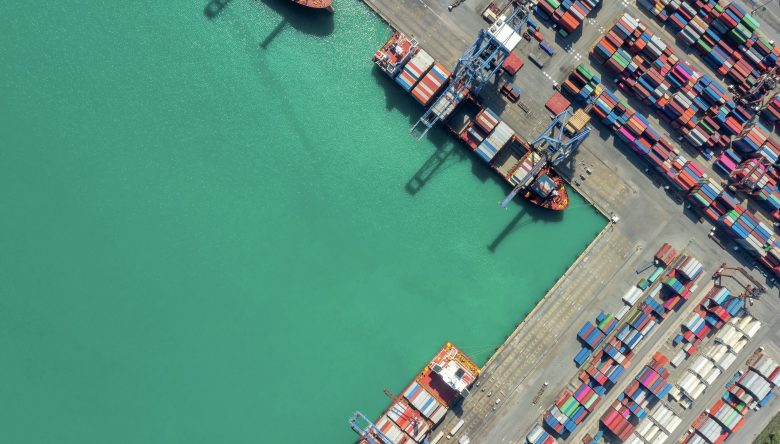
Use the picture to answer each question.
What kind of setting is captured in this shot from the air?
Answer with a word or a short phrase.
port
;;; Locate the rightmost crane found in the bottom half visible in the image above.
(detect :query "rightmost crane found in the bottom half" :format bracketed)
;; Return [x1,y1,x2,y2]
[714,264,766,301]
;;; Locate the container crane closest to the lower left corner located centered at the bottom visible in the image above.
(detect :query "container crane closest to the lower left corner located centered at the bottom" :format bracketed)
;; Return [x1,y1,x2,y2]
[348,409,399,444]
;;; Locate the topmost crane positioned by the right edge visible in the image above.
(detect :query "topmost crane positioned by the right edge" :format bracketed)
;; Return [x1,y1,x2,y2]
[730,71,779,113]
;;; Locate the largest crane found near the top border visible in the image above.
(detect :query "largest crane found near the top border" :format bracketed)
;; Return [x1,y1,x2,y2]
[408,2,535,143]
